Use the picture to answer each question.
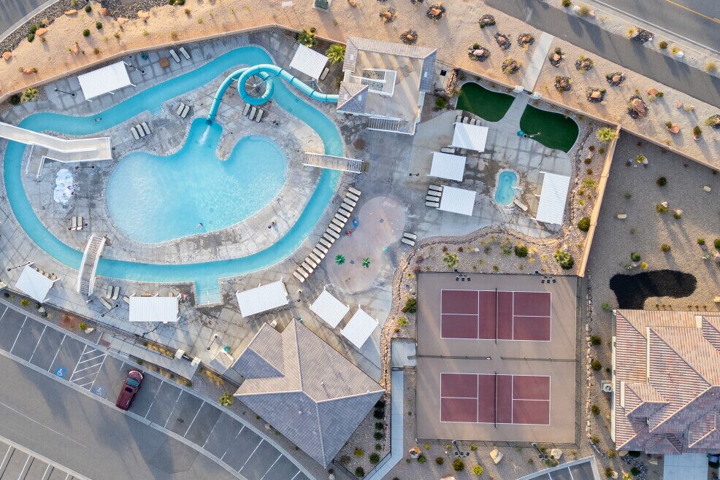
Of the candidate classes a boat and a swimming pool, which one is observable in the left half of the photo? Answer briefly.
swimming pool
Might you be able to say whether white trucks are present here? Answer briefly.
No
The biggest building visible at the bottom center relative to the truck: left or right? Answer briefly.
on the right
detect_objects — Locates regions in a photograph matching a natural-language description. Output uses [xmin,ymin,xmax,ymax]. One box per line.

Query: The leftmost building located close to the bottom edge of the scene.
[232,319,385,470]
